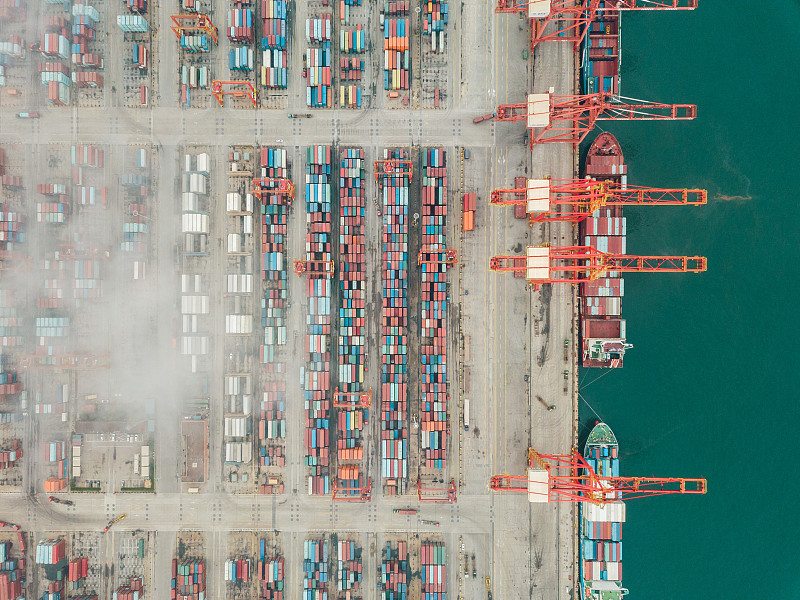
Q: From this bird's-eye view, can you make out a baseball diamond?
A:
No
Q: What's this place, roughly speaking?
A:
port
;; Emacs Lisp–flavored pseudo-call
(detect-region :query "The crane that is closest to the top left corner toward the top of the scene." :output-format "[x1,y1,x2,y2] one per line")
[170,14,217,45]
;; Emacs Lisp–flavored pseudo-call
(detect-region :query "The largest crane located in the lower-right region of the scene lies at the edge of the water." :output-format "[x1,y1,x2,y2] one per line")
[488,444,708,503]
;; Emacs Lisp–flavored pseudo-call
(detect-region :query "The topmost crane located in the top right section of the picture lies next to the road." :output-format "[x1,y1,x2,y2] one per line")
[495,0,698,55]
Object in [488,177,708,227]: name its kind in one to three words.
container crane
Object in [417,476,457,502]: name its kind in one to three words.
crane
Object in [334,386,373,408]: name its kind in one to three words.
crane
